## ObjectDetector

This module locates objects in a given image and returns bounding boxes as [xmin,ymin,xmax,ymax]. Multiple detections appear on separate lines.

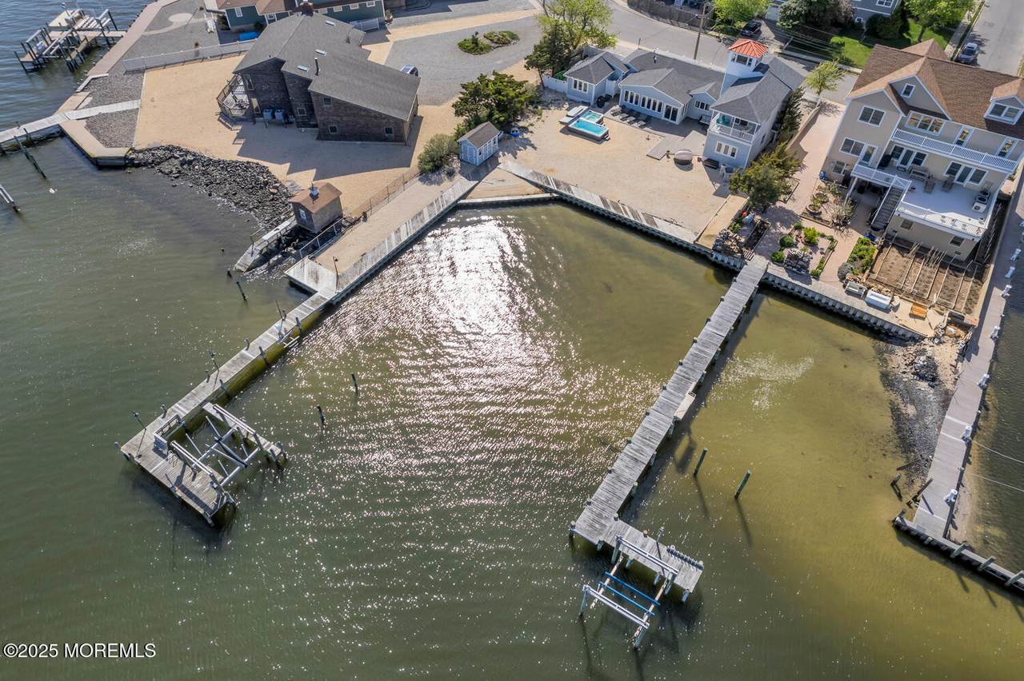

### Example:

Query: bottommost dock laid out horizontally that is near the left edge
[0,100,140,150]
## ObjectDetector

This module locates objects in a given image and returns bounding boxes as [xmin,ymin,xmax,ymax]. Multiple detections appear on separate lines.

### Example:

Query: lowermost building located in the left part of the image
[290,184,341,235]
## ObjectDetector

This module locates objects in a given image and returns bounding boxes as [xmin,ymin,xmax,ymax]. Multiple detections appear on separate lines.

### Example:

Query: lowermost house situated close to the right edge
[823,39,1024,257]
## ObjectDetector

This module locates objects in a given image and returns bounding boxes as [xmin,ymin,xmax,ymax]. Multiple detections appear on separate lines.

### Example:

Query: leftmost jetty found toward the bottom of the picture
[112,292,338,534]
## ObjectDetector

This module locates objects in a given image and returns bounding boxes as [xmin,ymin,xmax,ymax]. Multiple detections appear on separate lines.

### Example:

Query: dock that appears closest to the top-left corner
[14,8,124,73]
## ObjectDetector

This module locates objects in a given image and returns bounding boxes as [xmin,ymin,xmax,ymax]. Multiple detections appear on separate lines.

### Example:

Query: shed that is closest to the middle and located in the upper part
[454,123,503,167]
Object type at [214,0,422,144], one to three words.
house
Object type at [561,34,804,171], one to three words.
house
